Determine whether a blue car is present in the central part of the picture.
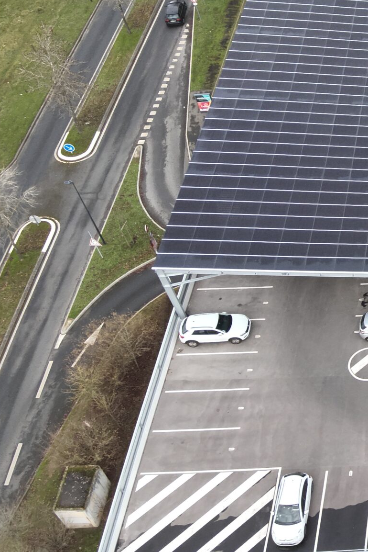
No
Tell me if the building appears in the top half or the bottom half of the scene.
bottom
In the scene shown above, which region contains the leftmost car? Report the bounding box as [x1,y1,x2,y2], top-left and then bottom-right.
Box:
[161,0,188,29]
